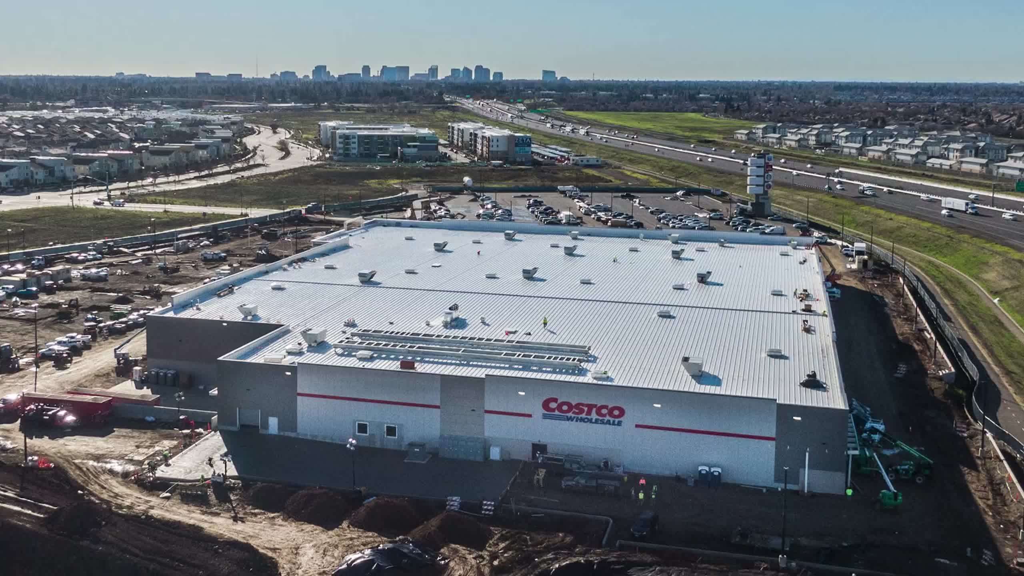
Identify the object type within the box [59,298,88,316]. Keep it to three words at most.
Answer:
work vehicle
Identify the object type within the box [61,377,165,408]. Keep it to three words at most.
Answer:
trailer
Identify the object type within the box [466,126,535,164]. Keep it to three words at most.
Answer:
building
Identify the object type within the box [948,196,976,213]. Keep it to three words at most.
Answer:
vehicle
